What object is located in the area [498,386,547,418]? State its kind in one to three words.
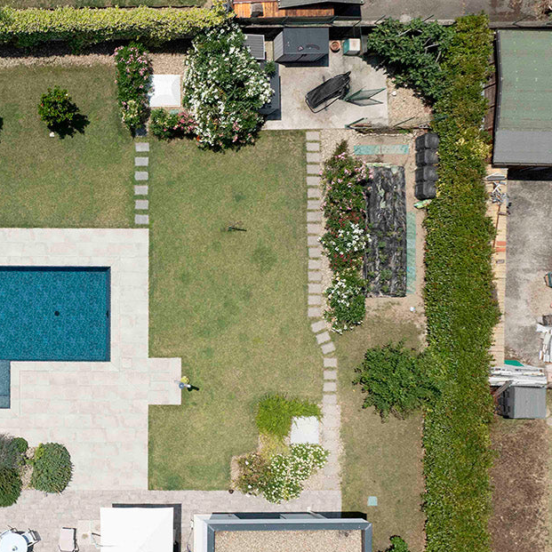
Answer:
shed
